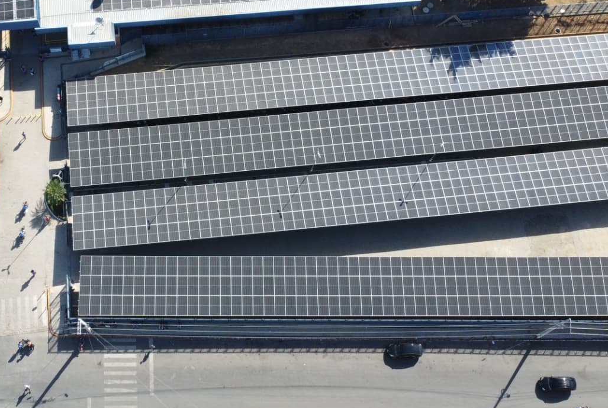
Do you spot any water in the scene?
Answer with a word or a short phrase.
No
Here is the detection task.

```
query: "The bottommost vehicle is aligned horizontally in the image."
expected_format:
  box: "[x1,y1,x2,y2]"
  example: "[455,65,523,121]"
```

[536,377,580,396]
